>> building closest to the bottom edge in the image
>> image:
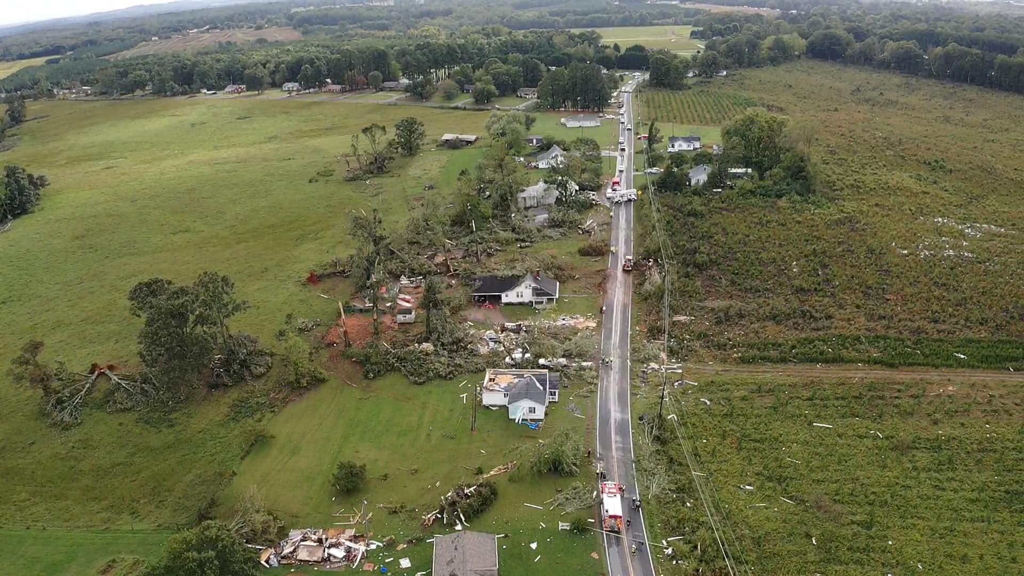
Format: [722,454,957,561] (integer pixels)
[427,533,498,576]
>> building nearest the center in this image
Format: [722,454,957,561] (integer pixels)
[471,269,559,307]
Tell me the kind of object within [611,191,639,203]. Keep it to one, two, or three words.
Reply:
vehicle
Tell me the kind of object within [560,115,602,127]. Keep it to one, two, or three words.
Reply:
house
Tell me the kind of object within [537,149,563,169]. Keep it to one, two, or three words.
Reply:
house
